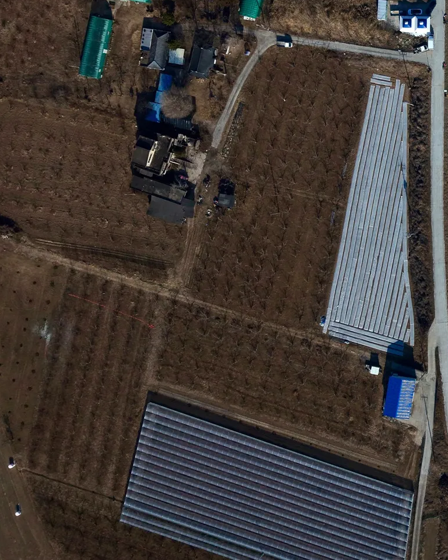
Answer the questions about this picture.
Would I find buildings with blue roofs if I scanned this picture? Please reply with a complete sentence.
Yes, a building with a blue roof appears in the view.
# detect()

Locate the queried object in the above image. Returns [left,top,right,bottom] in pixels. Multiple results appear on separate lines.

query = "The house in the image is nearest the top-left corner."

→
[80,16,115,79]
